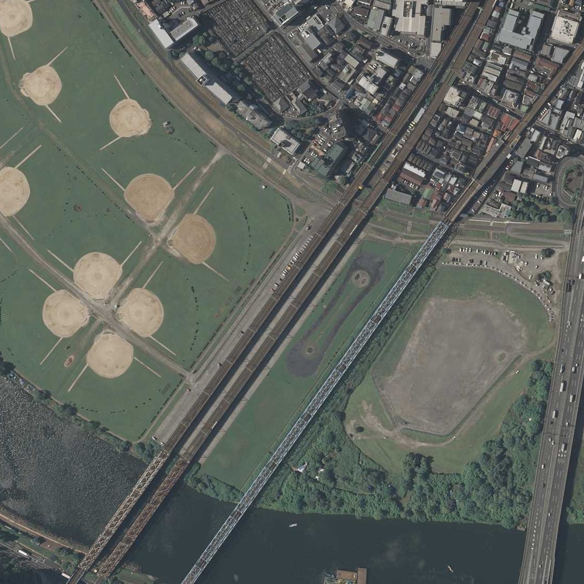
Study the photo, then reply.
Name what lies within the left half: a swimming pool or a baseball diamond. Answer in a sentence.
What appears within the left half is a baseball diamond.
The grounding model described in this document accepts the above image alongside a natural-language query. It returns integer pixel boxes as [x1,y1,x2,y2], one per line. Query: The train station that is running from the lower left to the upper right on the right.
[474,135,516,190]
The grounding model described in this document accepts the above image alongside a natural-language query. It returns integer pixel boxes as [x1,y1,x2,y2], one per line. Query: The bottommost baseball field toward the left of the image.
[69,325,161,385]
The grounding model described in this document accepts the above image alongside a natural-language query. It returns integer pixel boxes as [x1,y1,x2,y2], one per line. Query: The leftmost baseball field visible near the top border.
[0,0,34,58]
